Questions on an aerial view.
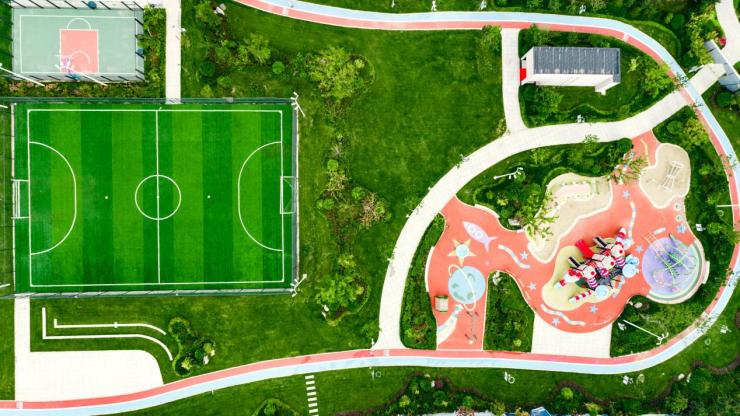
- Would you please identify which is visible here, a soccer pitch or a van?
soccer pitch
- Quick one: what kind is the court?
basketball court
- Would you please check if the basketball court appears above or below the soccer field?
above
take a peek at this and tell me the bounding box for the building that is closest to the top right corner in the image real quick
[519,46,620,96]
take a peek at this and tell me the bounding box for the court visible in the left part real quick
[11,5,145,84]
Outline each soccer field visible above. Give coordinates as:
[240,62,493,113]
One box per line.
[13,103,298,294]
